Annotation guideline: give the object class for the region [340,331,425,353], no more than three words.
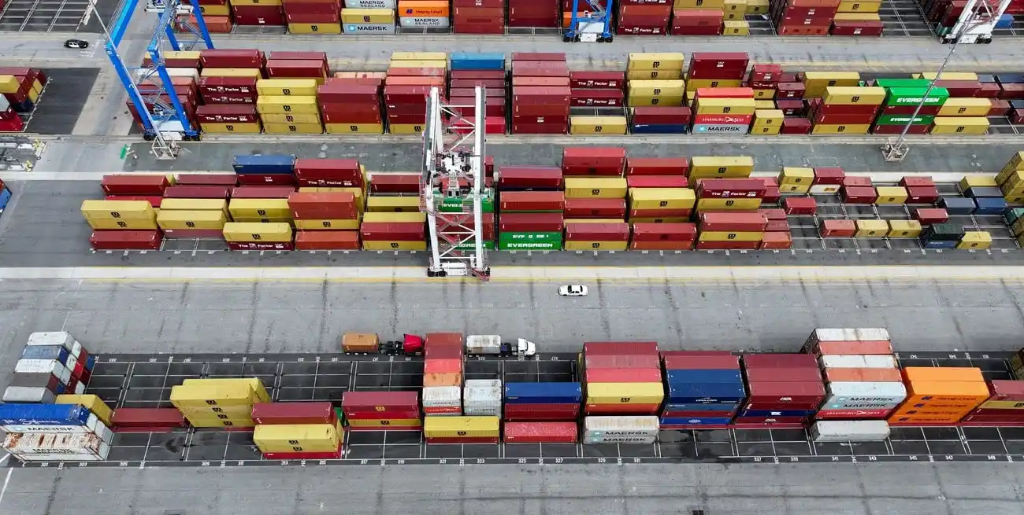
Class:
truck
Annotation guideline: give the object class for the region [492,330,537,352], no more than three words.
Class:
truck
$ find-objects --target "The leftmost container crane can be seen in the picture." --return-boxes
[94,0,211,140]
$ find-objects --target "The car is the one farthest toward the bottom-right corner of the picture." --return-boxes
[558,281,588,293]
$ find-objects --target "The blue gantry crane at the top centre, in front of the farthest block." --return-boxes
[565,0,614,41]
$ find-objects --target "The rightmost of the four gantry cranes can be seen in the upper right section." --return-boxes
[944,0,1014,42]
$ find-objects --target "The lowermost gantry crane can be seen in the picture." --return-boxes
[416,82,492,281]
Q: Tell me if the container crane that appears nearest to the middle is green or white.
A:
white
